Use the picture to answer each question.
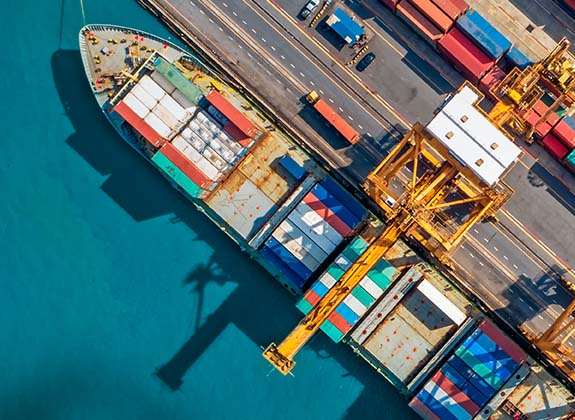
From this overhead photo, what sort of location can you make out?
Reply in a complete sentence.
This looks like a port.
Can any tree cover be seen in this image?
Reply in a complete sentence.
No, tree cover can't be seen anywhere here.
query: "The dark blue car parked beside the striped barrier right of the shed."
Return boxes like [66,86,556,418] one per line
[355,52,376,73]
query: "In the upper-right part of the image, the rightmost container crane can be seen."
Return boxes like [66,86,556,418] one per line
[501,36,575,151]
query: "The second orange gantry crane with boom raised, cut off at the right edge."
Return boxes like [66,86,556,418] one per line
[524,282,575,392]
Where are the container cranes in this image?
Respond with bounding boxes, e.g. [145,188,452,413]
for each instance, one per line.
[262,62,545,377]
[524,282,575,392]
[501,36,575,151]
